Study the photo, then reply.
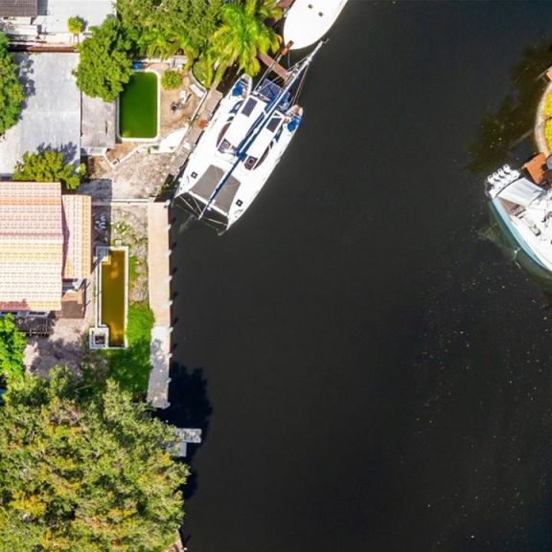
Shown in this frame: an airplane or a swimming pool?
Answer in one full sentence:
The one in the frame is a swimming pool.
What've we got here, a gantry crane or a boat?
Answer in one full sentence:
Looking from above, you can make out a boat.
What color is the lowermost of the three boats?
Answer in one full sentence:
From above, the lowermost of the three boats appears white.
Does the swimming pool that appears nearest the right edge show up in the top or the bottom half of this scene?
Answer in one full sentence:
It is in the top half that the swimming pool that appears nearest the right edge appears.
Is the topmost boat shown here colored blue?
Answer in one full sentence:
No, the topmost boat is actually white.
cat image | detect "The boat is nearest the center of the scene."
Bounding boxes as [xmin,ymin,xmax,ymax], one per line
[174,61,323,230]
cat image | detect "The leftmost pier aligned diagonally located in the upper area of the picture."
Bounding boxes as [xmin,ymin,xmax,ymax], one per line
[154,87,220,181]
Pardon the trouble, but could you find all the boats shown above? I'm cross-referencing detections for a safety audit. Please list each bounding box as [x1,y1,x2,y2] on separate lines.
[489,159,552,267]
[281,0,344,55]
[174,61,323,230]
